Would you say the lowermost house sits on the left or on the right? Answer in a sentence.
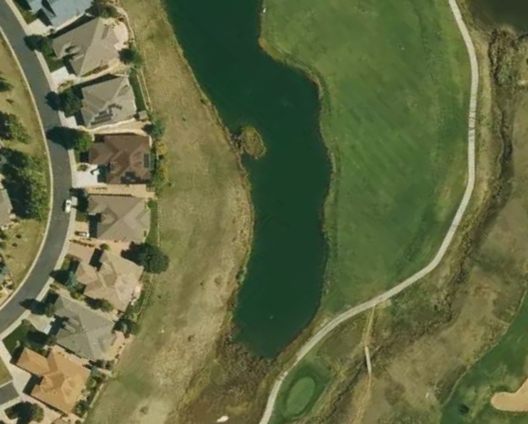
It is on the left.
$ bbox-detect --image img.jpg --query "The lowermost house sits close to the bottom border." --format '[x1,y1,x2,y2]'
[14,347,90,411]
